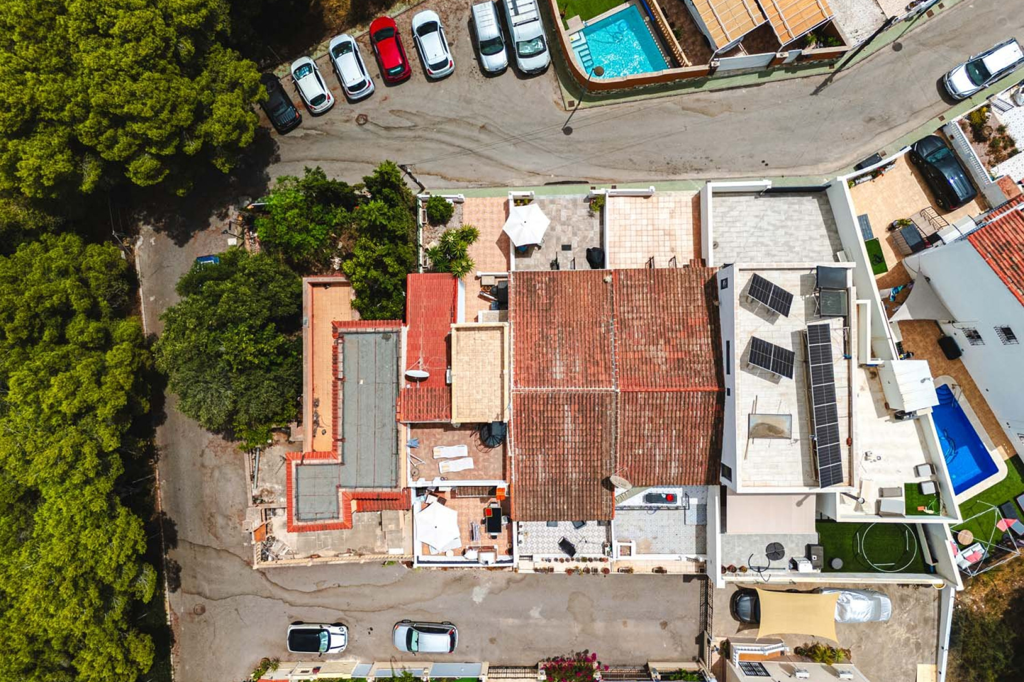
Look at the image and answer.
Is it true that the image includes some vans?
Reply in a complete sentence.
Yes, there is a van in the image.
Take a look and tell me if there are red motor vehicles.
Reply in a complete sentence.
Yes, there's a red motor vehicle down there.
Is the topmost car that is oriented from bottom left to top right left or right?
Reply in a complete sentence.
It is on the right.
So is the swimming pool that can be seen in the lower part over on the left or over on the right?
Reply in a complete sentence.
The swimming pool that can be seen in the lower part appears in the right half of the scene.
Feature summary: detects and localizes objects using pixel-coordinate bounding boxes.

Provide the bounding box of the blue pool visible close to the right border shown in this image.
[927,384,998,496]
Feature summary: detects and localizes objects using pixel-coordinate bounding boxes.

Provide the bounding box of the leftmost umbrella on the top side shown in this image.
[503,204,550,247]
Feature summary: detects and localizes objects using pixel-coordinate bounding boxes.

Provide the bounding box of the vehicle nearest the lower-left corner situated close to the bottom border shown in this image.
[287,619,349,658]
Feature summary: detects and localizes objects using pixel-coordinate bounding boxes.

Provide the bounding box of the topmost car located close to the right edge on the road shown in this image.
[947,37,1024,100]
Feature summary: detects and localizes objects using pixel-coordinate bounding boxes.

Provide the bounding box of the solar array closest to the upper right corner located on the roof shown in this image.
[743,273,794,317]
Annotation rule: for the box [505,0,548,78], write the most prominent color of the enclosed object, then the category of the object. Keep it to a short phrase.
white van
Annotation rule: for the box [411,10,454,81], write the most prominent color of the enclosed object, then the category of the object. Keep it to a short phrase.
white car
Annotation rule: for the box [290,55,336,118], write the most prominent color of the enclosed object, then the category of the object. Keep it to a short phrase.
white car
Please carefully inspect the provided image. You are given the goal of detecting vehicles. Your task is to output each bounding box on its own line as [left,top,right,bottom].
[257,70,308,139]
[393,618,458,657]
[290,55,336,118]
[369,16,412,85]
[471,0,509,78]
[947,37,1024,100]
[907,134,975,211]
[329,33,376,103]
[411,10,454,81]
[287,619,349,658]
[730,589,760,626]
[505,0,548,78]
